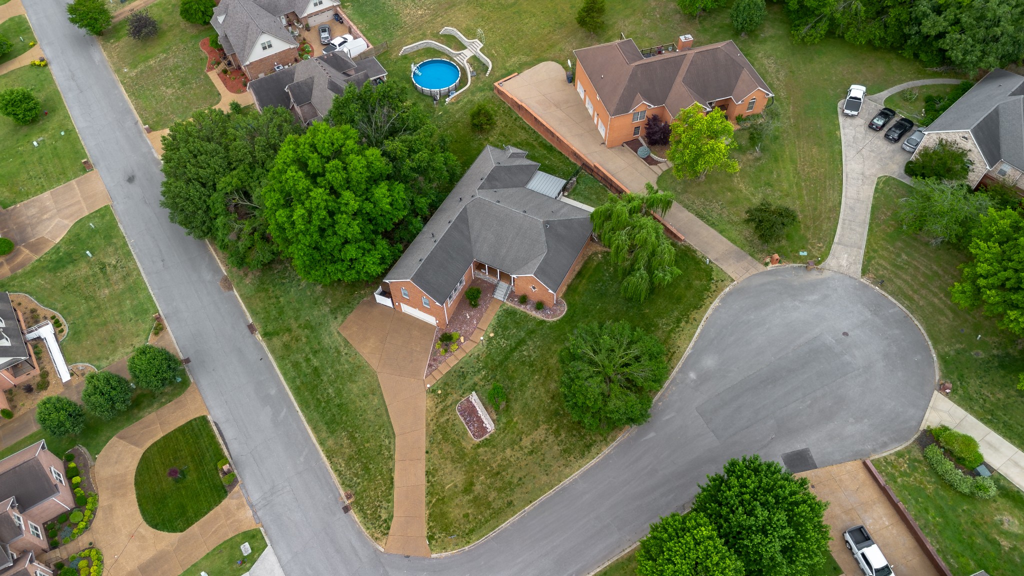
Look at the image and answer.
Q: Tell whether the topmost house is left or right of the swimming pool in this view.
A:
to the left of it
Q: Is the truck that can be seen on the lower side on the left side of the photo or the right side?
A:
right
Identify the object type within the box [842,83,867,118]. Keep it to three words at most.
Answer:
truck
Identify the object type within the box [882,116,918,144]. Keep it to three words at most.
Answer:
car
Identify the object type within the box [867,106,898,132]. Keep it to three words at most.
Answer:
car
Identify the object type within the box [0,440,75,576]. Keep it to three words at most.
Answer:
house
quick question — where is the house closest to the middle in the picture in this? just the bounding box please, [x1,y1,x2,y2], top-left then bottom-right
[383,145,597,327]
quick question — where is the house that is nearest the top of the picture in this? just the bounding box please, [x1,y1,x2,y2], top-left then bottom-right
[201,0,341,81]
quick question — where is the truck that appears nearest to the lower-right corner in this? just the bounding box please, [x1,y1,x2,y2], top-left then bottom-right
[843,522,896,576]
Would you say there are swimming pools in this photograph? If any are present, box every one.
[411,59,462,96]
